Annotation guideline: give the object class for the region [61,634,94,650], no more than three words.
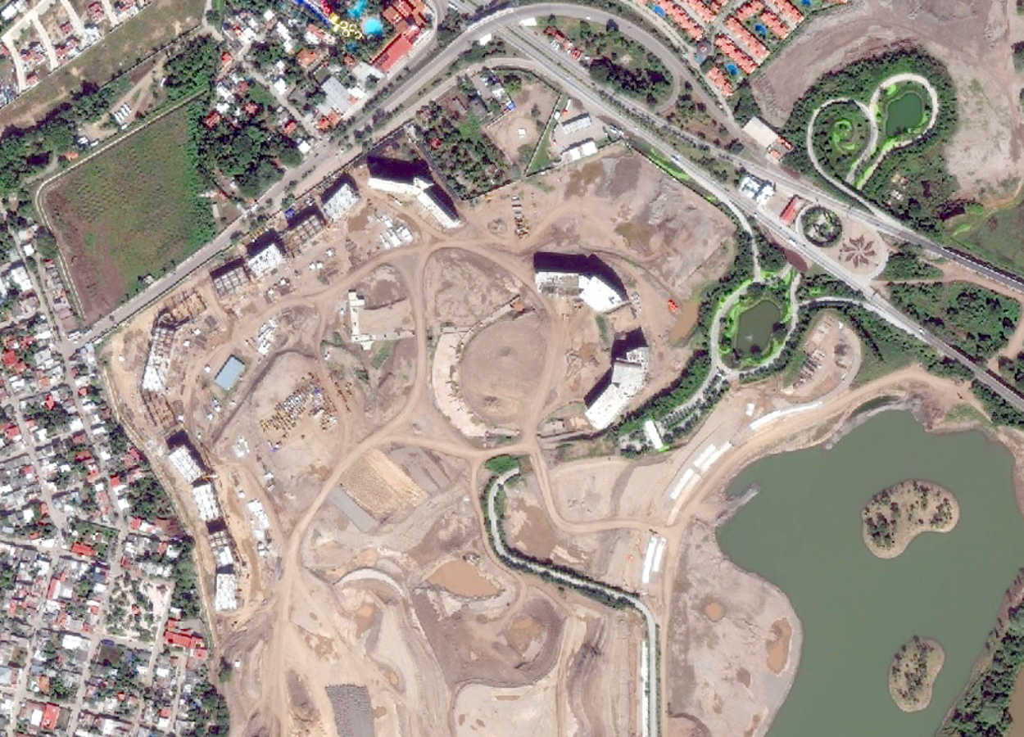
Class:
house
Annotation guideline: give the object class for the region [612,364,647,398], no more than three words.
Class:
building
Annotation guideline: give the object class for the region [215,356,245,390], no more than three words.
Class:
shed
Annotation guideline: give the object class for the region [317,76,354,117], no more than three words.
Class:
building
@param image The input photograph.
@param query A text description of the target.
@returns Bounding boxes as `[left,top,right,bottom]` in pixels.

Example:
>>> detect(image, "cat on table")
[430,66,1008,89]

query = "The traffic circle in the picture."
[797,202,845,250]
